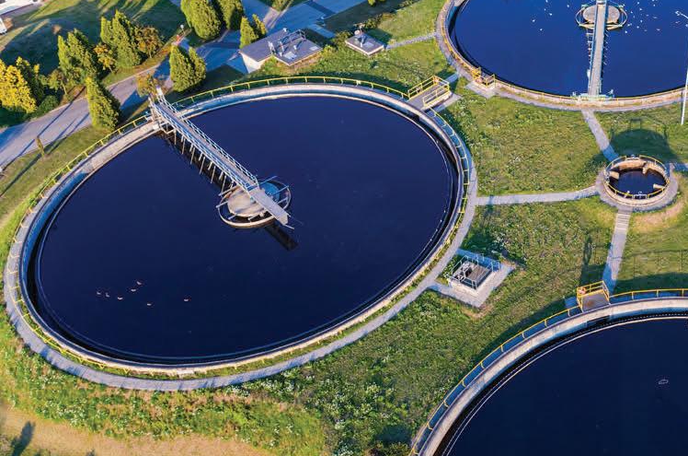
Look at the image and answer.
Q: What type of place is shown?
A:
industrial area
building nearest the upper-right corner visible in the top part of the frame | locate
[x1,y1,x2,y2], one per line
[346,26,384,61]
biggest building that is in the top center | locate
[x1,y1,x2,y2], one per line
[238,24,322,80]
